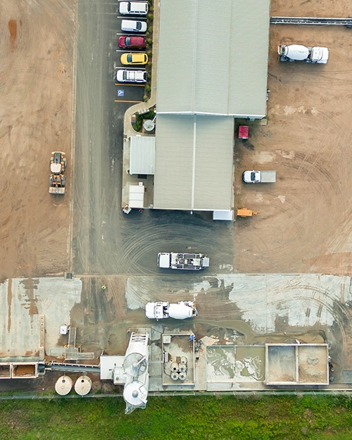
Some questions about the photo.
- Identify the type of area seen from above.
industrial area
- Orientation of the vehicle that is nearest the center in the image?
from left to right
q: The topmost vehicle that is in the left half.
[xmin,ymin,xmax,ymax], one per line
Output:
[119,0,148,14]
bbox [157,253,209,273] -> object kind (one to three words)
vehicle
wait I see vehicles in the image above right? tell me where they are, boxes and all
[121,19,147,32]
[116,69,147,84]
[147,302,199,324]
[120,52,147,66]
[47,153,65,195]
[118,36,146,50]
[157,253,209,273]
[242,172,277,185]
[277,44,330,64]
[119,0,148,14]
